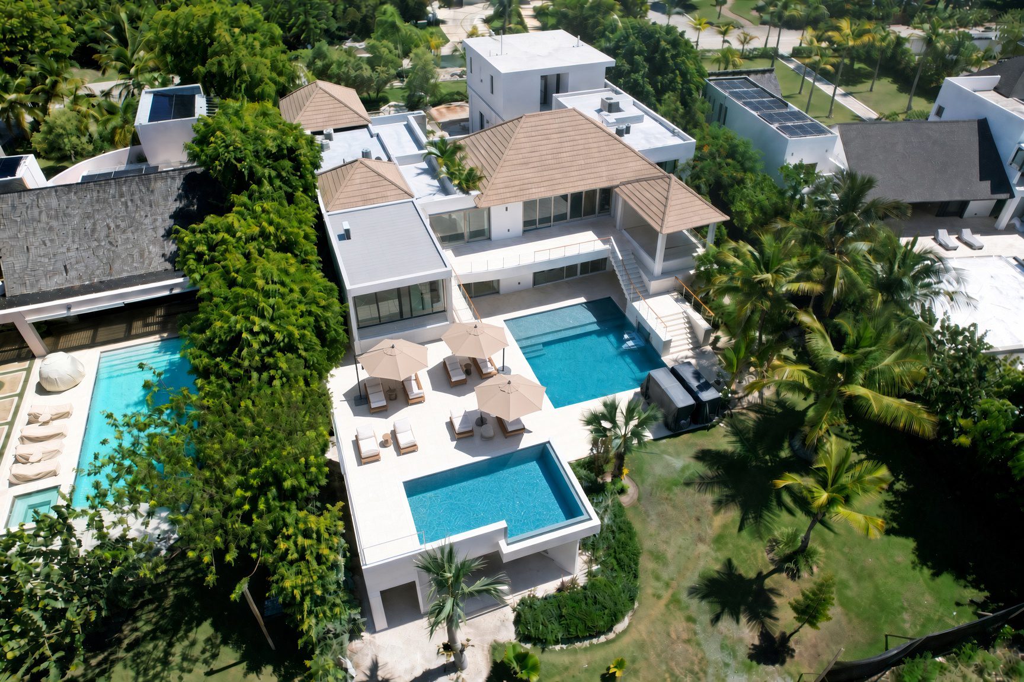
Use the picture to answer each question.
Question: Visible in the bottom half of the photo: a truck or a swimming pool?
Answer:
swimming pool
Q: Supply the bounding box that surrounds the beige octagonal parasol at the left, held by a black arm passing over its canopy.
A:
[351,336,431,410]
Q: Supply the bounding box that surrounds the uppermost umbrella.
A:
[441,317,511,372]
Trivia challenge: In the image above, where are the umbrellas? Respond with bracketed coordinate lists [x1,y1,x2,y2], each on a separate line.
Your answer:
[351,336,431,410]
[469,368,550,428]
[441,317,511,372]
